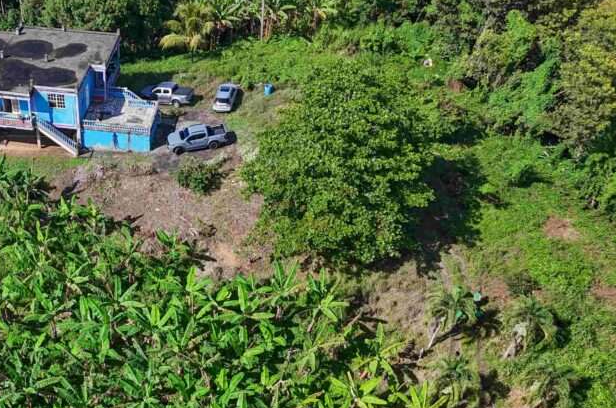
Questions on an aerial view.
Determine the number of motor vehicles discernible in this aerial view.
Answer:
3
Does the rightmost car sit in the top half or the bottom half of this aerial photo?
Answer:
top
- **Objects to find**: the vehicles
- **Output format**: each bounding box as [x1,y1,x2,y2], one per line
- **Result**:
[209,83,241,111]
[133,75,195,105]
[164,123,234,157]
